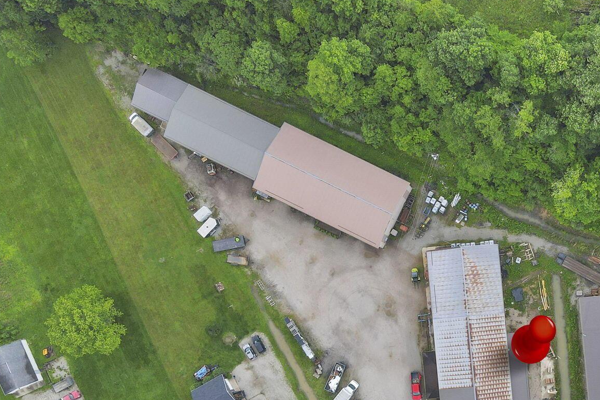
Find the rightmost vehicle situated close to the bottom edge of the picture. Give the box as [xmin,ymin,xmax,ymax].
[410,370,423,400]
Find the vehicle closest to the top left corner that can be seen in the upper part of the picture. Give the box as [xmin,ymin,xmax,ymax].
[131,113,158,140]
